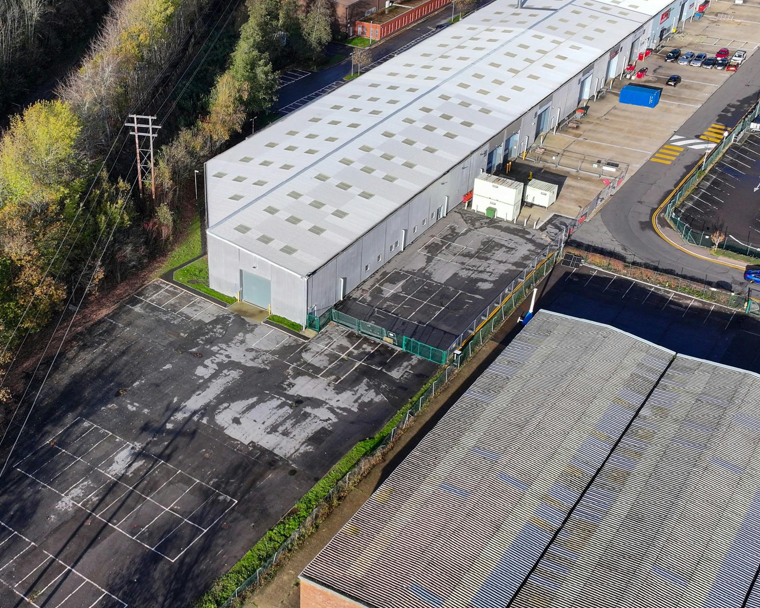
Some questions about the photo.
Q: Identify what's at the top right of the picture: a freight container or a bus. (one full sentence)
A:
Visible at the top right of the picture is a freight container.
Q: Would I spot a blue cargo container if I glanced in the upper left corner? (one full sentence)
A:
No, I see no blue cargo container in the upper left corner.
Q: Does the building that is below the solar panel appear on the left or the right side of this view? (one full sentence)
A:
It is on the right.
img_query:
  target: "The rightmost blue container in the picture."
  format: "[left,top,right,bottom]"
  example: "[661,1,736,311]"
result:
[621,84,659,109]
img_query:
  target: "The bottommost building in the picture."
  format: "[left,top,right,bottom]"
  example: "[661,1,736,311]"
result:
[291,306,760,608]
